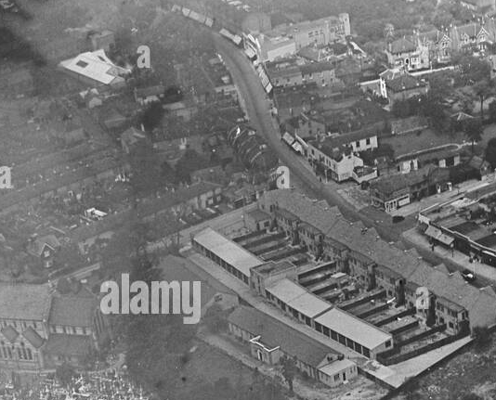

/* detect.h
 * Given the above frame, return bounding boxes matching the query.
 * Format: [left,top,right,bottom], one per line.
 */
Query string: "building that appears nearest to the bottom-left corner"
[0,291,118,369]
